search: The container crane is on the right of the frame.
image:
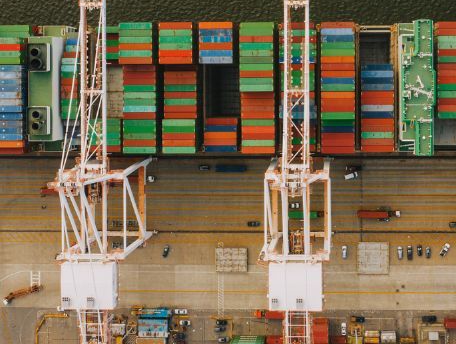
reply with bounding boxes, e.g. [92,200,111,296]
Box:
[259,0,339,344]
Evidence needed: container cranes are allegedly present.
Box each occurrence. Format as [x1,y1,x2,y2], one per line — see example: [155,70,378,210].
[49,0,162,344]
[259,0,339,344]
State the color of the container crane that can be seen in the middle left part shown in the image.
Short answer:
white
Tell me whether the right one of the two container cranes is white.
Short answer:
Yes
